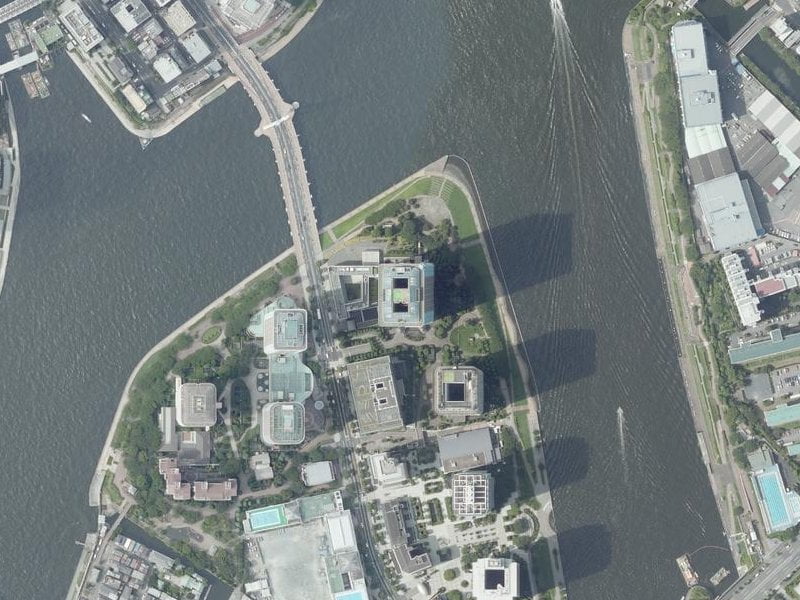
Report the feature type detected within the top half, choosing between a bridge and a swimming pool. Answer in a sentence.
The feature located within the top half is a bridge.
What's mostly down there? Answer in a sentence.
The largest share of the image is taken up by water.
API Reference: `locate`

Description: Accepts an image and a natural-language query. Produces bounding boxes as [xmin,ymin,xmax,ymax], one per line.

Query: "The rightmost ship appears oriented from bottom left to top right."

[710,568,729,585]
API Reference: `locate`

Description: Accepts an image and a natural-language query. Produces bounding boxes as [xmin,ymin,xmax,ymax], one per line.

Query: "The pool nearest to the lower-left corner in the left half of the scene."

[246,504,288,534]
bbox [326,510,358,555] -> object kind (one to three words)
building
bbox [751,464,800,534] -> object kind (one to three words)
swimming pool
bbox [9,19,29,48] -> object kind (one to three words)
ship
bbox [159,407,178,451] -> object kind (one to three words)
house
